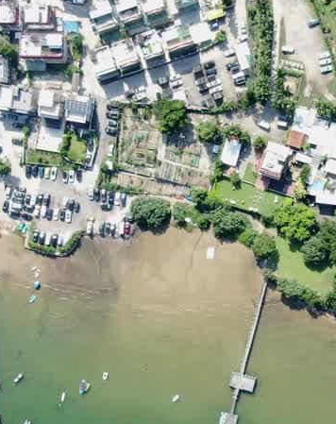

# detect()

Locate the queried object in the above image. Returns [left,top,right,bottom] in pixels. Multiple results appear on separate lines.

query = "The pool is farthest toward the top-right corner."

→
[310,177,328,193]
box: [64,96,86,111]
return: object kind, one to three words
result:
solar panel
